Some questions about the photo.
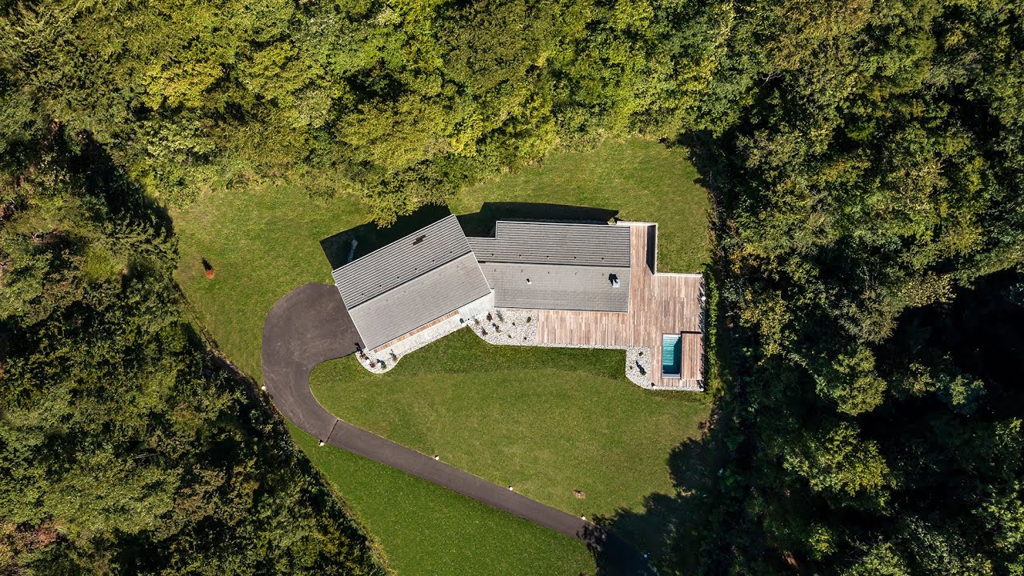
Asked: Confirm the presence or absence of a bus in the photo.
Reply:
No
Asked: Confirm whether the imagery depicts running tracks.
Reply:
No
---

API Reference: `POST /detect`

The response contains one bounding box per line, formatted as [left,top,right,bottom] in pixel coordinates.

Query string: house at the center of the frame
[331,212,631,350]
